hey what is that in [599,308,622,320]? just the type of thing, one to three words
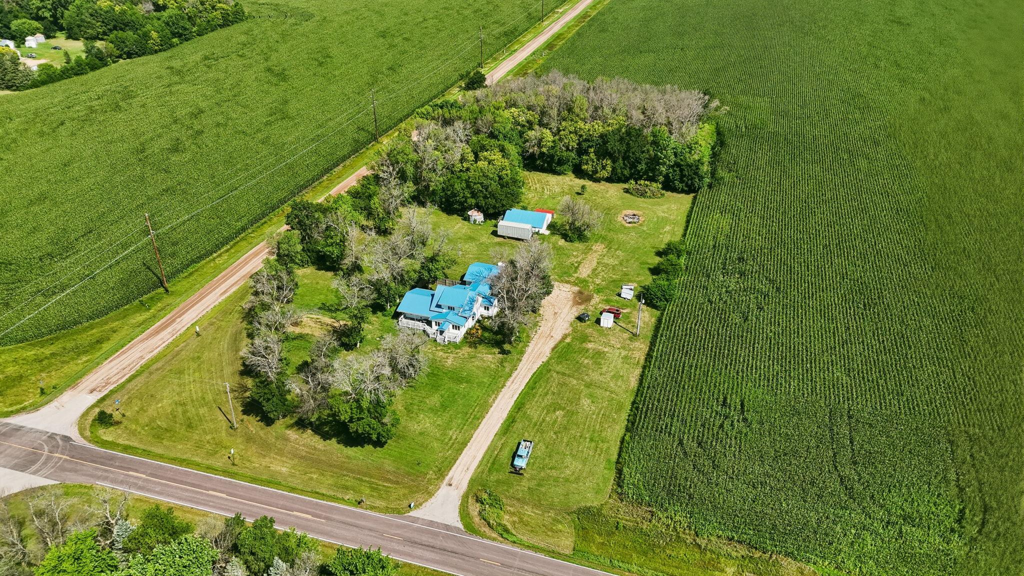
vehicle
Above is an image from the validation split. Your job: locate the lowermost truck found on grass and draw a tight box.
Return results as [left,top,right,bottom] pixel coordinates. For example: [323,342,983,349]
[509,442,535,474]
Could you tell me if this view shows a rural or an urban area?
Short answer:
rural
